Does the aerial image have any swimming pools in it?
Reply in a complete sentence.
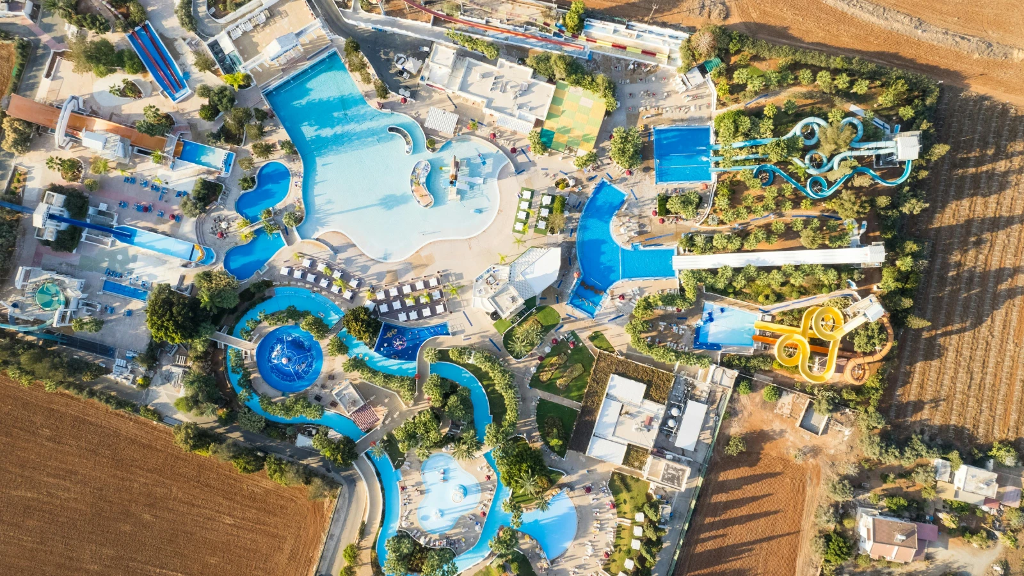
Yes, a swimming pool appears in the view.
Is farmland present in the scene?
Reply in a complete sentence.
Yes, some farmland is visible.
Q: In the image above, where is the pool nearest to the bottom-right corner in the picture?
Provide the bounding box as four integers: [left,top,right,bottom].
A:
[693,300,759,351]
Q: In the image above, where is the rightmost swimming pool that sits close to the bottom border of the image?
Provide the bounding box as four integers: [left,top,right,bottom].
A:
[505,488,578,561]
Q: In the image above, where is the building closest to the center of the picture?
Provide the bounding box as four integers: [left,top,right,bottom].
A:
[473,264,529,323]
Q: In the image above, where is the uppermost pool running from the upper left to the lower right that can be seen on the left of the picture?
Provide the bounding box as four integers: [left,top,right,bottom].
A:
[127,22,188,101]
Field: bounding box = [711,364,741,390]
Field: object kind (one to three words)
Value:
building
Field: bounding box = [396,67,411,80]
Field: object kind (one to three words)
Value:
vehicle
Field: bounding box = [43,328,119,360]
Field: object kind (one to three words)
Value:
swimming pool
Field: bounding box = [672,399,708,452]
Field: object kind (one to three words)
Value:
shed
